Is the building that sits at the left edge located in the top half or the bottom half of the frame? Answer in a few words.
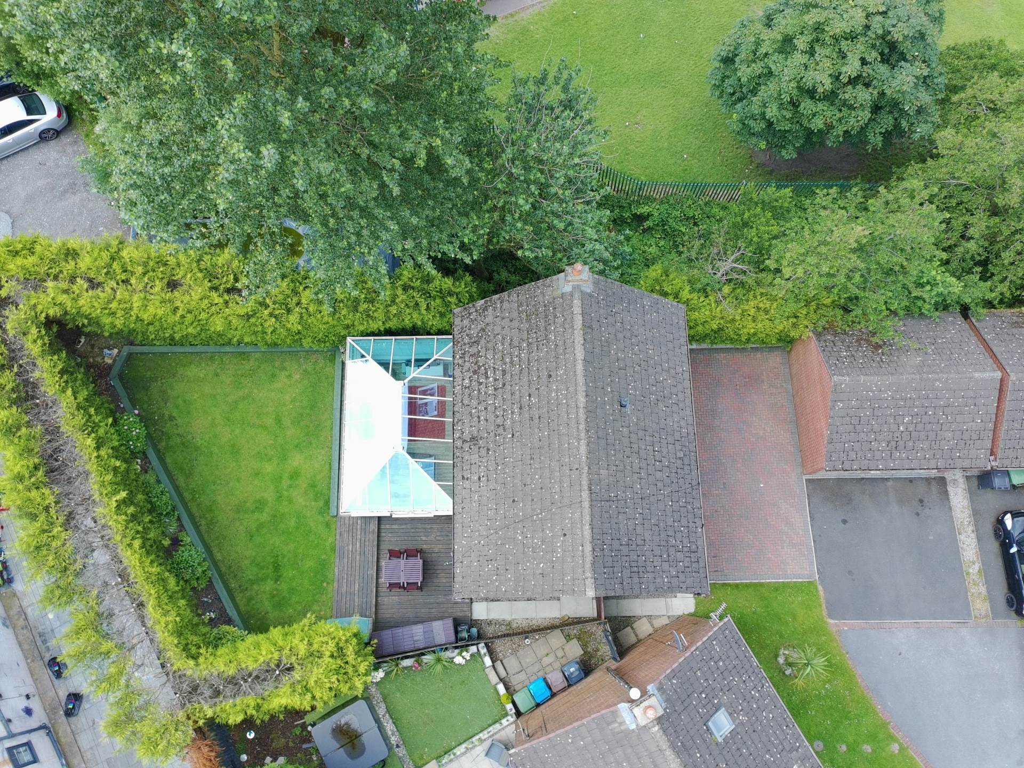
bottom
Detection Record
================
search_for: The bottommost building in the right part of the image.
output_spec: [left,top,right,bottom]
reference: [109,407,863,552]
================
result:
[506,608,831,768]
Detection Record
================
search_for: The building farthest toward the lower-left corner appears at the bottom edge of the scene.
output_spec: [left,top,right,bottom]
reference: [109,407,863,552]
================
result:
[0,592,88,768]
